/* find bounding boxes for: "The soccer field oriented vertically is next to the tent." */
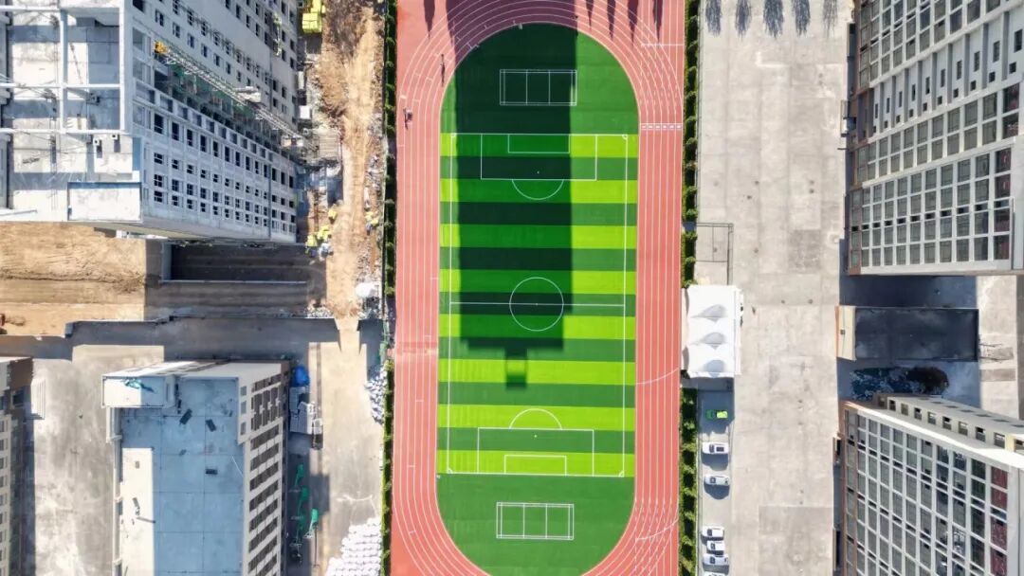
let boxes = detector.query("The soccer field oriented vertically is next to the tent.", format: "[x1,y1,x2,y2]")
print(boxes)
[437,23,638,576]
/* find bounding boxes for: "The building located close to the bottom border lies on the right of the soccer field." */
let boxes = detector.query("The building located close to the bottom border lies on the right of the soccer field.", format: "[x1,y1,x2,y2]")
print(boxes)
[831,392,1024,576]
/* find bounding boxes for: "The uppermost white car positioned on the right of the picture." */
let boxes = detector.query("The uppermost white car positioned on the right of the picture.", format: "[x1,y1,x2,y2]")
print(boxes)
[701,443,730,457]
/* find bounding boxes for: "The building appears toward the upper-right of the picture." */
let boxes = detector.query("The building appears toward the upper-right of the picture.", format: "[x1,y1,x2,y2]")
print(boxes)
[838,0,1024,279]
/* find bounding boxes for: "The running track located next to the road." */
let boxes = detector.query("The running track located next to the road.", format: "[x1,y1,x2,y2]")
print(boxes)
[391,0,685,576]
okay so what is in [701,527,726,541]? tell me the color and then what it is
white car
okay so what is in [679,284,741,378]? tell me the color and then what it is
white tent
